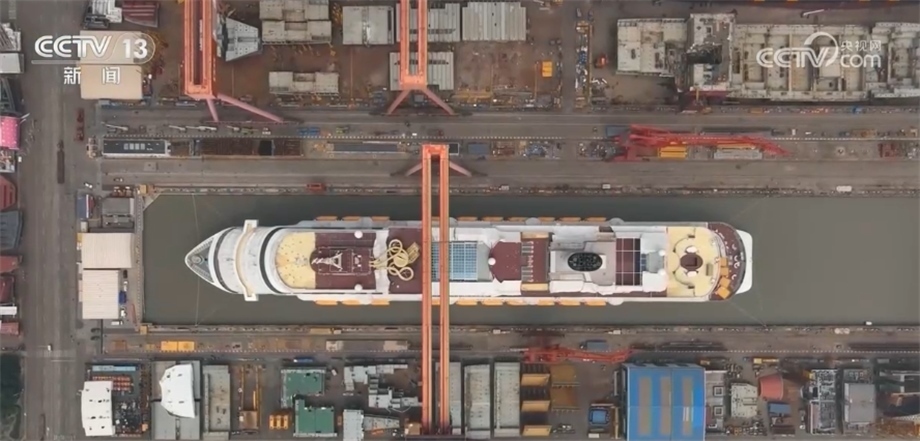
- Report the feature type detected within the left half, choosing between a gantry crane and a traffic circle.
gantry crane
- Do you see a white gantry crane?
No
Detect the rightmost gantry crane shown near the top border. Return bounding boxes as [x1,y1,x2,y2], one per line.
[373,0,466,114]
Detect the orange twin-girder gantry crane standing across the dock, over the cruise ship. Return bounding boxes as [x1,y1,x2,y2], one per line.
[391,145,486,441]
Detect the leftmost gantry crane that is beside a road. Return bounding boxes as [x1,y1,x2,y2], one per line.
[181,0,298,123]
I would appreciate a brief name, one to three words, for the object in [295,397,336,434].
shed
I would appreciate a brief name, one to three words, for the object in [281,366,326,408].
shed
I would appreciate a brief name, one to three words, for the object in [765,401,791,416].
building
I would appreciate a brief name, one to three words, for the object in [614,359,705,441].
building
